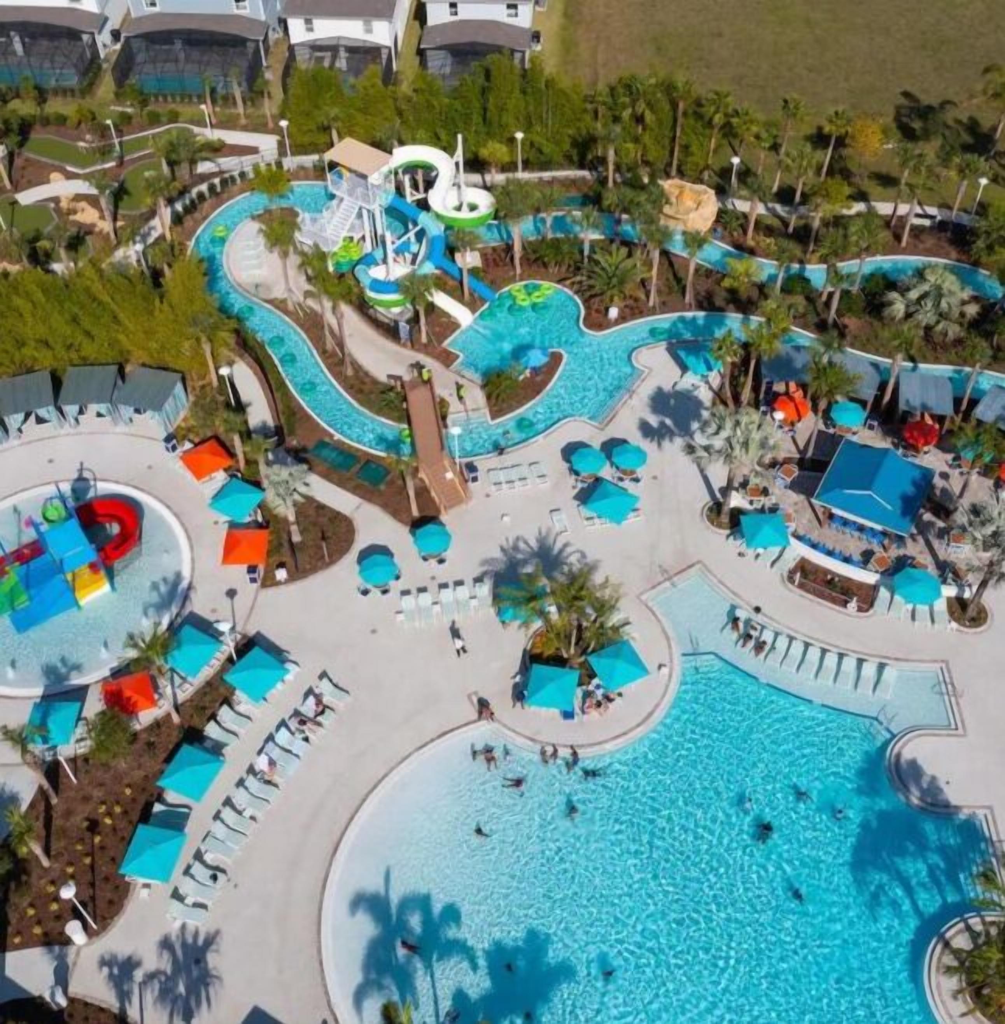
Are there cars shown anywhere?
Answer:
No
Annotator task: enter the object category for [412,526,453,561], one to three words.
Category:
umbrella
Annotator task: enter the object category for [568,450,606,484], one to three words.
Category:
umbrella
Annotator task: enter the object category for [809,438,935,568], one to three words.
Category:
shed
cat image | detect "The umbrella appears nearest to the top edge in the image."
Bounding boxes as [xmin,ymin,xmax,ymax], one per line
[522,352,552,392]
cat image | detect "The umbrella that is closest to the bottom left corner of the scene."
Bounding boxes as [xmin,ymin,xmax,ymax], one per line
[357,555,400,592]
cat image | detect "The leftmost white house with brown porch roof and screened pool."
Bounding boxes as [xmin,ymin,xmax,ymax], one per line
[0,0,137,91]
